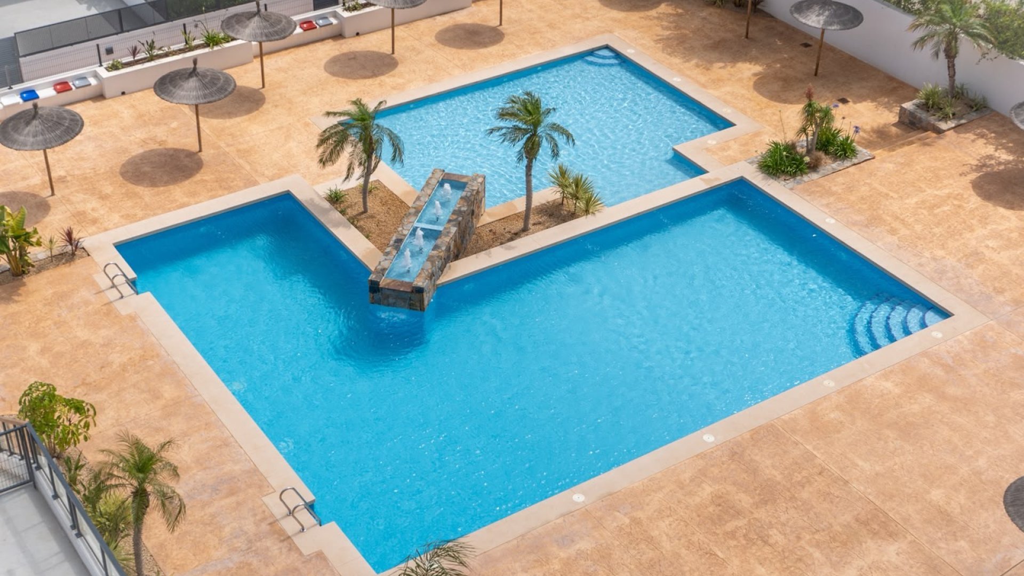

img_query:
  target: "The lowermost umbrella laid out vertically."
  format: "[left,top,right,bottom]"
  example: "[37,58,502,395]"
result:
[998,467,1024,531]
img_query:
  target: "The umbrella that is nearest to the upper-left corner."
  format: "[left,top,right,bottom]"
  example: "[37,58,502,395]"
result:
[0,97,85,195]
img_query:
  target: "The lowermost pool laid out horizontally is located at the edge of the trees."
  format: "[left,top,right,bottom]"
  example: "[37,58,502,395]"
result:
[81,160,991,576]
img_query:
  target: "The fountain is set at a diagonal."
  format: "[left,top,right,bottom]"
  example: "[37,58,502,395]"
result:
[367,167,486,318]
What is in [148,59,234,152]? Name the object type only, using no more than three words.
umbrella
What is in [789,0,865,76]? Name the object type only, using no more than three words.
umbrella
